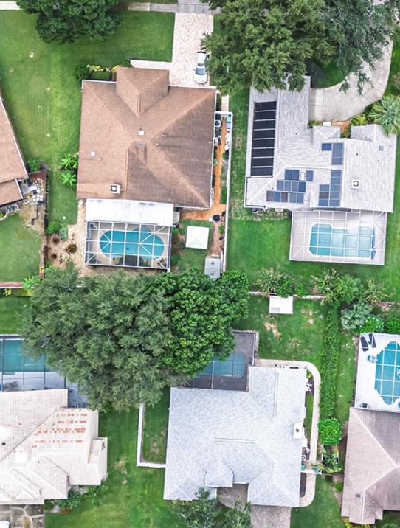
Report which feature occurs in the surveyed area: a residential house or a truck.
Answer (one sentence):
I can see a residential house in this picture.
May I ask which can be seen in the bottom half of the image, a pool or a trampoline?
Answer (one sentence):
It is a pool that can be seen in the bottom half of the image.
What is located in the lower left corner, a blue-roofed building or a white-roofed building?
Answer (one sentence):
What appears in the lower left corner is a white-roofed building.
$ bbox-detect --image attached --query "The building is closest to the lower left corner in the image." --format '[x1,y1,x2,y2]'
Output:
[0,389,111,505]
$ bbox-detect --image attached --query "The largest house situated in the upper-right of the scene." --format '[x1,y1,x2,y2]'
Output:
[244,73,397,212]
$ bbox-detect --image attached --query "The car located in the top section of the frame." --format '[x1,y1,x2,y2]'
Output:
[193,48,210,85]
